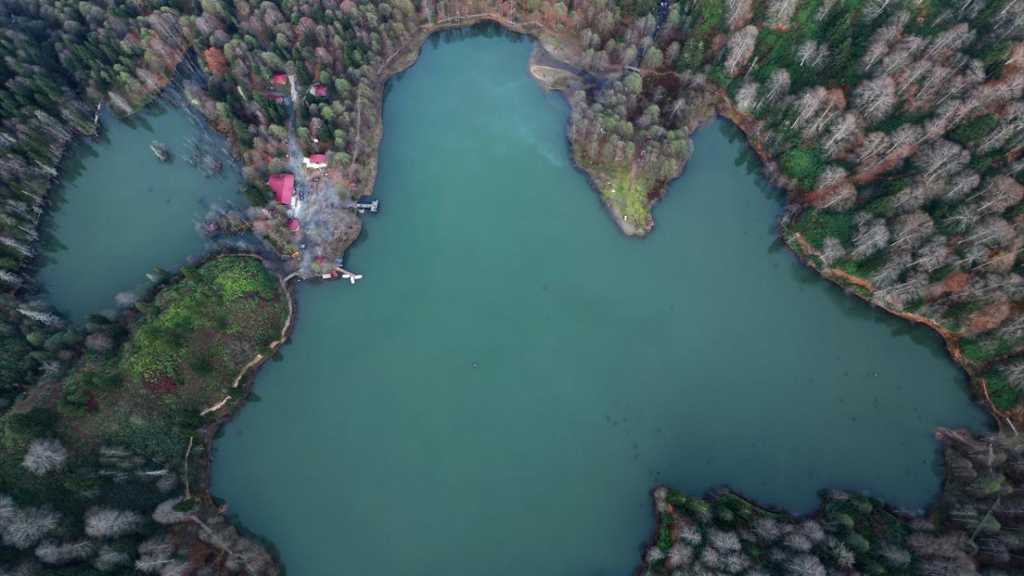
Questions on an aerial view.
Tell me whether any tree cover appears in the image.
Yes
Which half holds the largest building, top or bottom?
top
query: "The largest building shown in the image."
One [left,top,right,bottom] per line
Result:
[263,174,298,208]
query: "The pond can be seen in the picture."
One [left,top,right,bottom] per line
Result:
[14,59,287,324]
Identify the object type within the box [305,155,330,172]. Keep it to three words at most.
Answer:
building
